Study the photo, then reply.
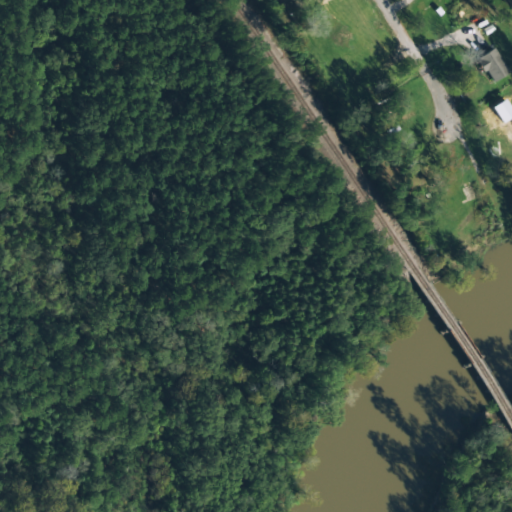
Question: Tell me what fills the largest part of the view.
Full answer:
What you mostly see from above here is trees.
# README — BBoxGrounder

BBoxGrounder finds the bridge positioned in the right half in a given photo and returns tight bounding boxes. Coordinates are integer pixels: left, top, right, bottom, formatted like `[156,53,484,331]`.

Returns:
[402,255,512,426]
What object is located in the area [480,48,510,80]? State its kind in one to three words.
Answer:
house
